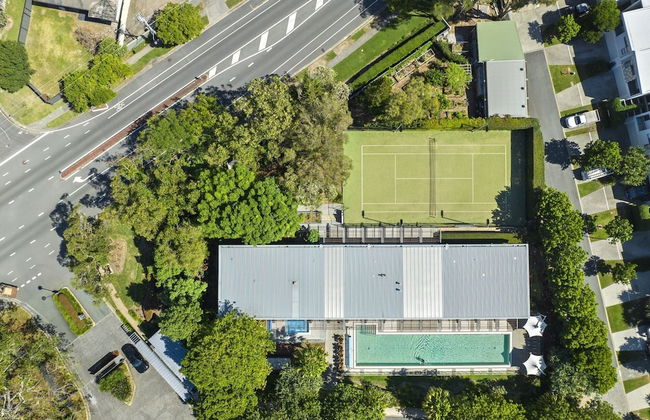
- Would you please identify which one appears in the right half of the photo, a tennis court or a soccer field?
tennis court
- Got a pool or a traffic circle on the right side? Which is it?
pool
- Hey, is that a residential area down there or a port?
residential area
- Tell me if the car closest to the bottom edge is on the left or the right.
left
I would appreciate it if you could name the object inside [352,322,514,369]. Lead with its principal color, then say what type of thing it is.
green swimming pool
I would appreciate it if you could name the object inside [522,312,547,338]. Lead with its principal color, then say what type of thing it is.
white umbrella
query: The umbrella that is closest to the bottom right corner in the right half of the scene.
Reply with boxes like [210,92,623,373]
[523,353,547,379]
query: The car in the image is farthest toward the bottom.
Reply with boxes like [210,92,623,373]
[120,343,147,373]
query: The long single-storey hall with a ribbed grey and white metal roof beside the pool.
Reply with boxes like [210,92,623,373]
[218,243,530,320]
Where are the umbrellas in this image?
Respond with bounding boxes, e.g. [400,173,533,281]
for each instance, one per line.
[523,353,547,379]
[522,312,547,338]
